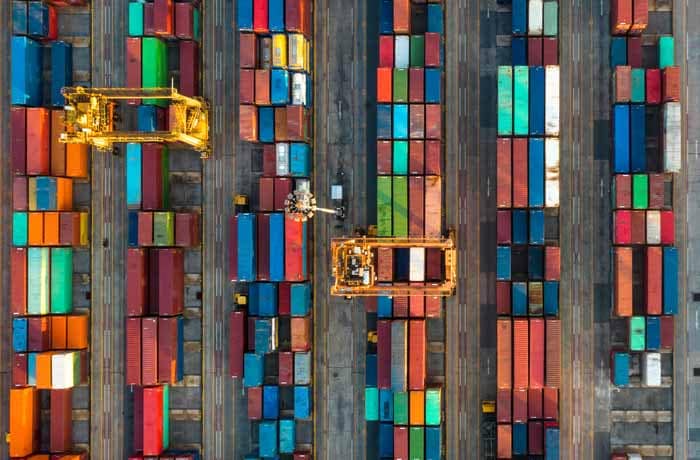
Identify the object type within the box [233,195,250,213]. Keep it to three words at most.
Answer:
vehicle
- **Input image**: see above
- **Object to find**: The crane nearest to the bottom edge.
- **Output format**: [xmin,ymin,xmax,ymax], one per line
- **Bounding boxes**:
[333,224,457,298]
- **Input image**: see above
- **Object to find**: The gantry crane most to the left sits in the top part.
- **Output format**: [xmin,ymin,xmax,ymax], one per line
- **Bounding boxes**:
[58,72,209,159]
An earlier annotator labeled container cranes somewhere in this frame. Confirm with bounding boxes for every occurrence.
[58,72,209,159]
[333,224,457,298]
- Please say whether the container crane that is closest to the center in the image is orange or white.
orange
